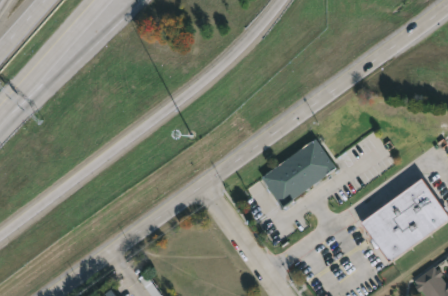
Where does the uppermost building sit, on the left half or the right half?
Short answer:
right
